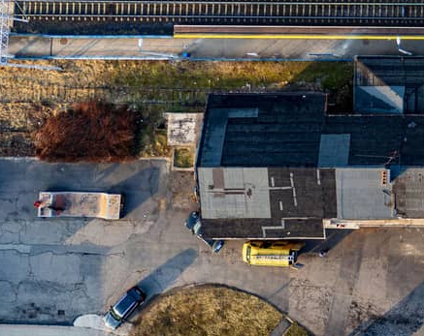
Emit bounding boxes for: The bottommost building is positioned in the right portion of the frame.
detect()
[195,92,424,240]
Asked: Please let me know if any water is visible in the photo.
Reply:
No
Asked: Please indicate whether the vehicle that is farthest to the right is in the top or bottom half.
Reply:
bottom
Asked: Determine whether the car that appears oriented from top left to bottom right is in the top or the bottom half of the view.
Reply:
bottom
